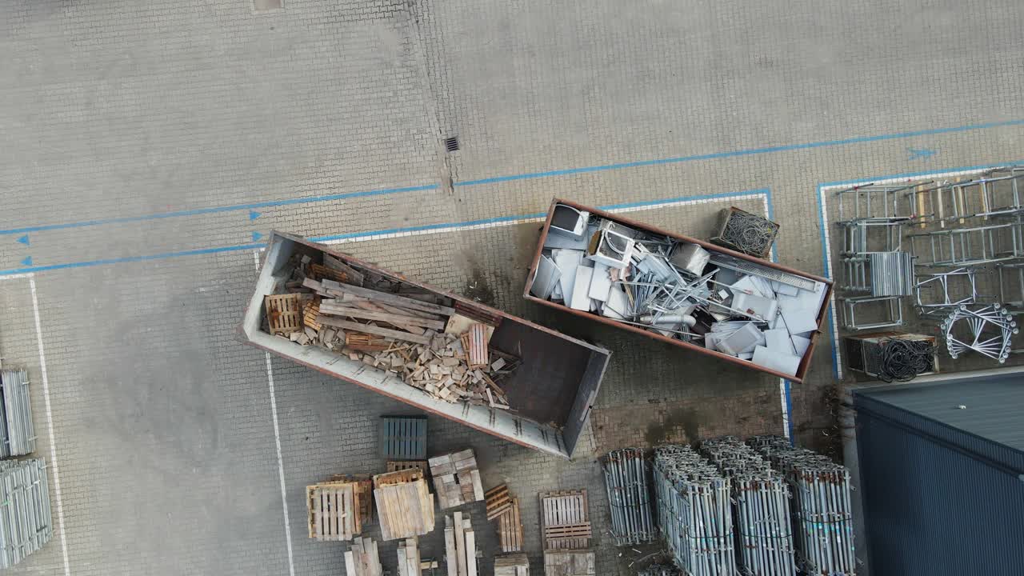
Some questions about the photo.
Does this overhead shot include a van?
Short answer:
No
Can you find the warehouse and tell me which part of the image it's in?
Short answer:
bottom right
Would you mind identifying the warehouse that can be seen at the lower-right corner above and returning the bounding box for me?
[851,373,1024,576]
